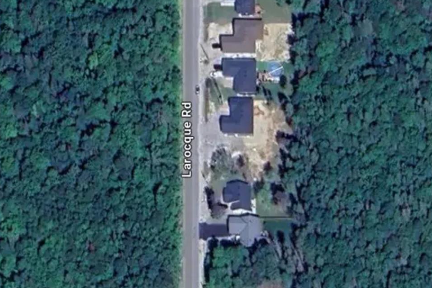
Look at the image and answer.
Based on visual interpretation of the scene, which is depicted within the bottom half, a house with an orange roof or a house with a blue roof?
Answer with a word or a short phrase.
house with a blue roof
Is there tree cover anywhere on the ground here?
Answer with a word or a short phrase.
Yes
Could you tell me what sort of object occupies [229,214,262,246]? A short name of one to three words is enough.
house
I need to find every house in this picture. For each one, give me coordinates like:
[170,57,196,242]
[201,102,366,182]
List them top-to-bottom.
[235,0,255,16]
[222,20,262,54]
[222,59,256,94]
[221,98,253,135]
[221,180,251,210]
[229,214,262,246]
